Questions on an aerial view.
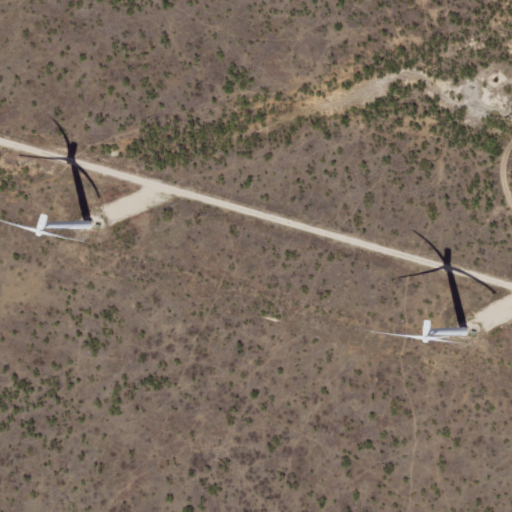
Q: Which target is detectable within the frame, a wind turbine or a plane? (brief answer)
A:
wind turbine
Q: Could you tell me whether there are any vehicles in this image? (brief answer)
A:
No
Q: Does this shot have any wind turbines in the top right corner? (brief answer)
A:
No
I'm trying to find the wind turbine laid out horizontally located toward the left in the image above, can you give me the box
[0,212,94,238]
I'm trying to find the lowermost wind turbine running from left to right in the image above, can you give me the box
[378,321,482,345]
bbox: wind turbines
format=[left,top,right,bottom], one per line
[0,212,94,238]
[378,321,482,345]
